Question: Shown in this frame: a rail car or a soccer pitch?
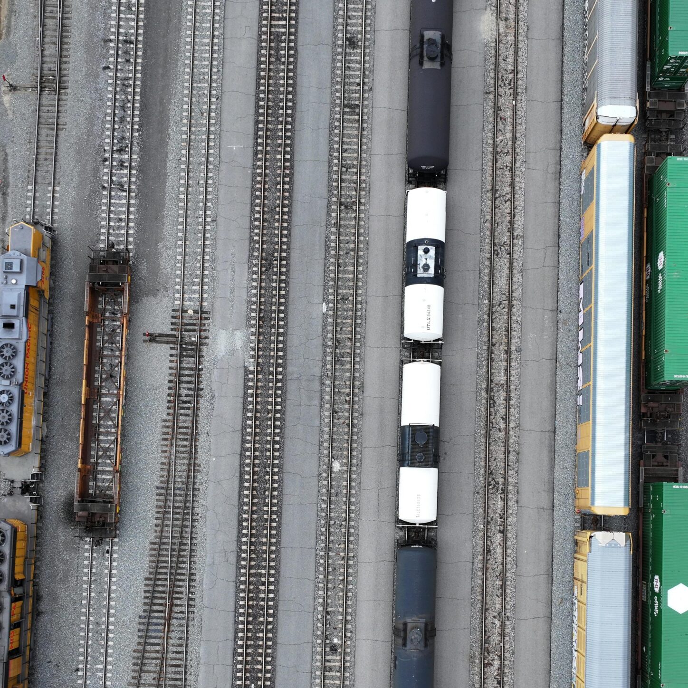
rail car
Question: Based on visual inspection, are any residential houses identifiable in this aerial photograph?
No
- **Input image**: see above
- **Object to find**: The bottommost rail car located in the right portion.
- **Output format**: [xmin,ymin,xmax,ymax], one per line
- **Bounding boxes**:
[392,530,437,688]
